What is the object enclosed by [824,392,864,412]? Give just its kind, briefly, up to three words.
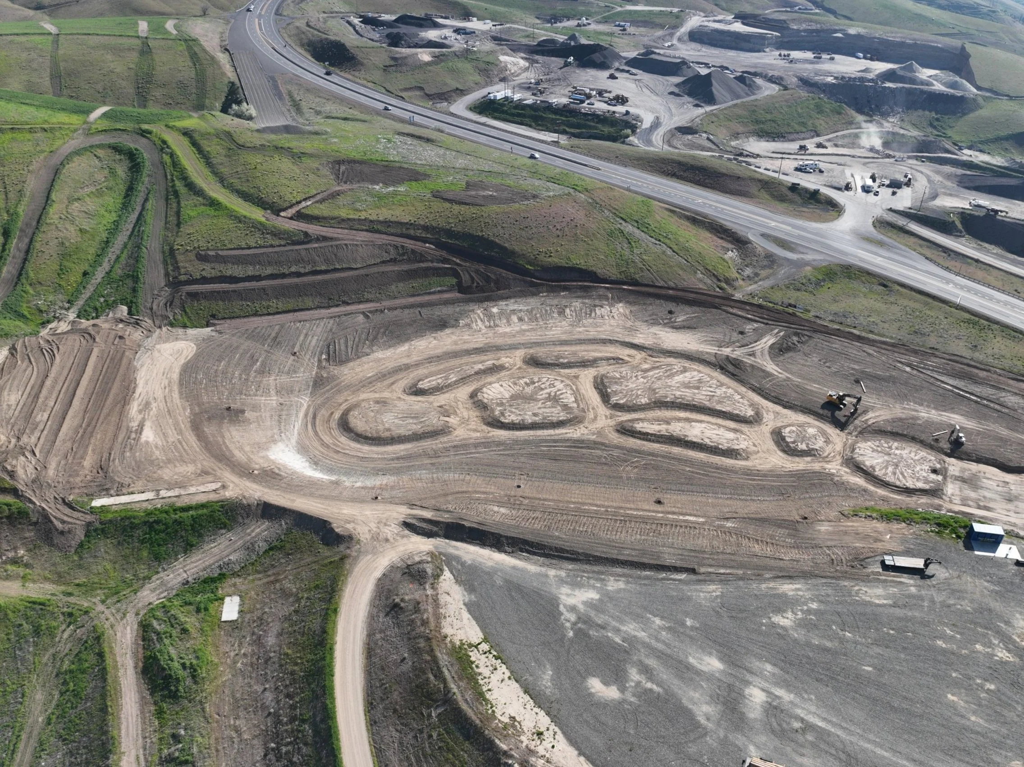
work vehicle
